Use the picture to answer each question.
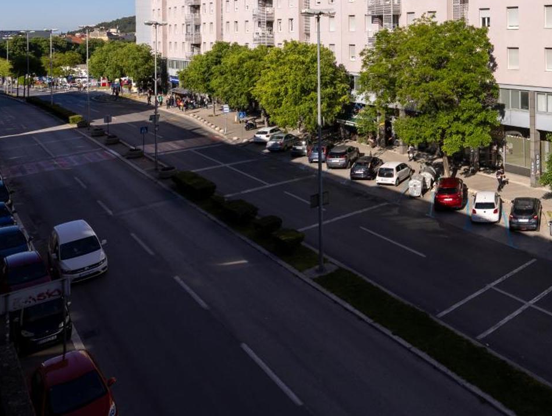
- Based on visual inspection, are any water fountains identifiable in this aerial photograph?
No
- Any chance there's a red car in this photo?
Yes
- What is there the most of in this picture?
paved ground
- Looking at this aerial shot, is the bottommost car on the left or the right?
left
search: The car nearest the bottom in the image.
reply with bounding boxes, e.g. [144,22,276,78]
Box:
[22,348,132,416]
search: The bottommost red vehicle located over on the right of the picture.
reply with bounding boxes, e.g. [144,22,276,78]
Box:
[434,174,466,209]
